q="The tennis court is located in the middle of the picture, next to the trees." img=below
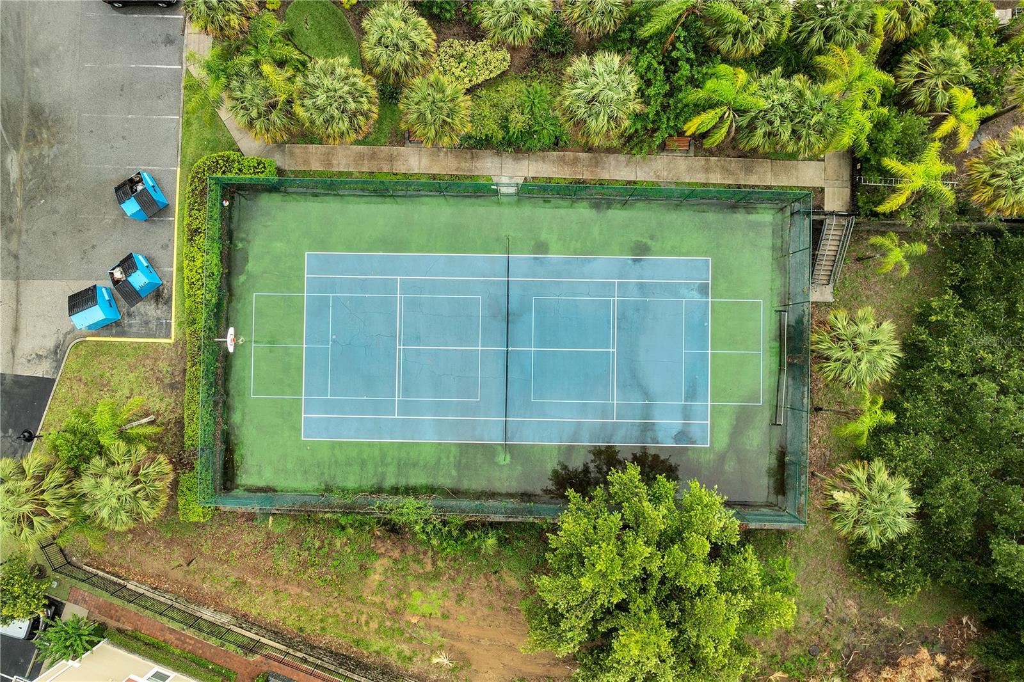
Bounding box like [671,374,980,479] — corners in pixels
[220,186,802,530]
